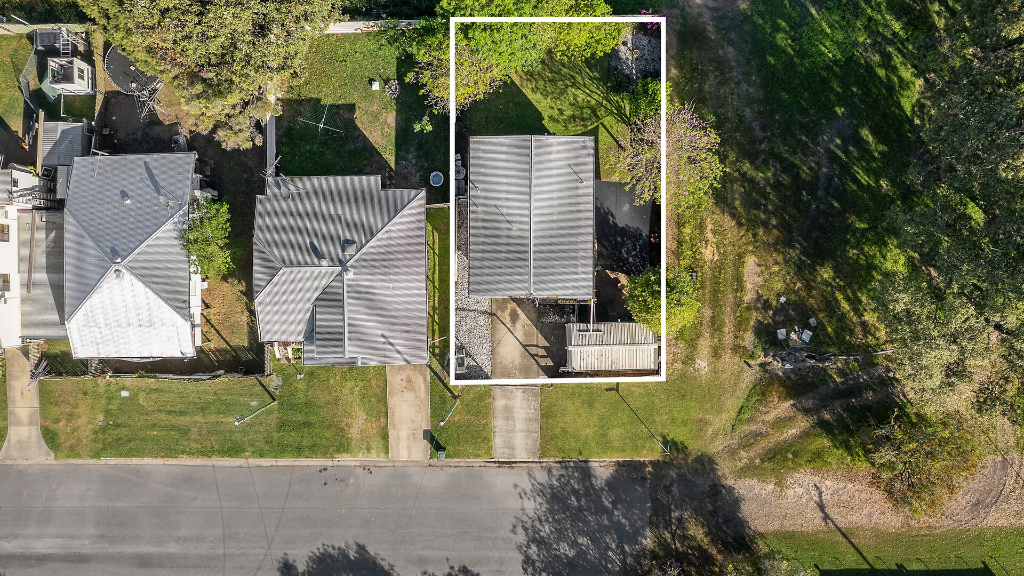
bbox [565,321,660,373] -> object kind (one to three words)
shed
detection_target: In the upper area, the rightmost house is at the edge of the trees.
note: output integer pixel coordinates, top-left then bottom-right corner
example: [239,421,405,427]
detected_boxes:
[466,134,597,307]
